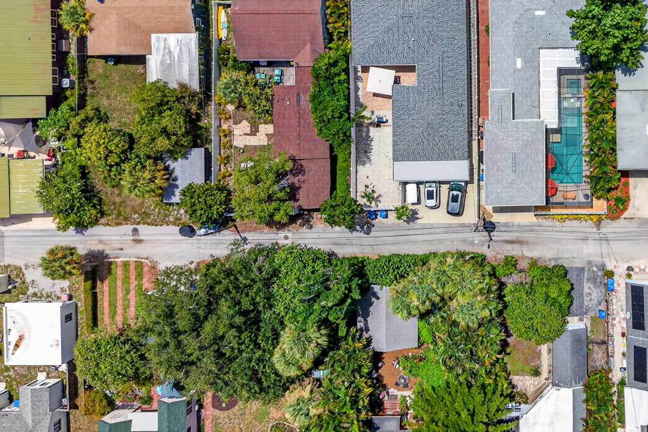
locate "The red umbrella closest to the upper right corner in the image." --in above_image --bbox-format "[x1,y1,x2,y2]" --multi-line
[544,154,557,171]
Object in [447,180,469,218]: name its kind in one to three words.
car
